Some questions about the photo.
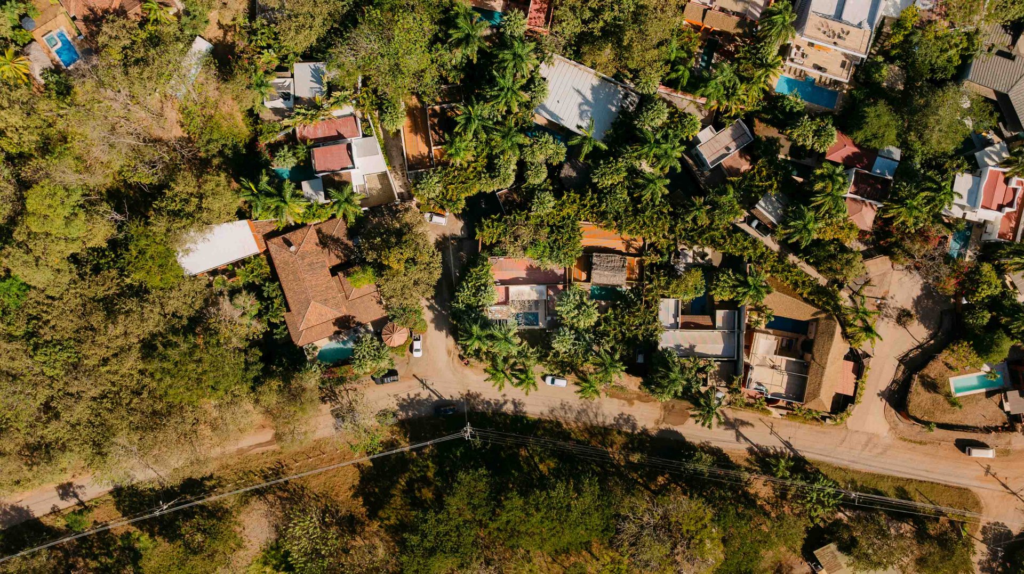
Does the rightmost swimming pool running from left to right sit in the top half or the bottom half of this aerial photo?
bottom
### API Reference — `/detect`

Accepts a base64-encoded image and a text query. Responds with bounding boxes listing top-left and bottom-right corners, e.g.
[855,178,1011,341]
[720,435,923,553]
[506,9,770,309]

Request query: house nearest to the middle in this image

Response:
[489,258,568,328]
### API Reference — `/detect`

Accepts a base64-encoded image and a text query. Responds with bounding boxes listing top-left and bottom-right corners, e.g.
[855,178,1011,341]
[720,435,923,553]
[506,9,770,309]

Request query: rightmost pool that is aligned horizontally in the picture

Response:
[948,364,1008,398]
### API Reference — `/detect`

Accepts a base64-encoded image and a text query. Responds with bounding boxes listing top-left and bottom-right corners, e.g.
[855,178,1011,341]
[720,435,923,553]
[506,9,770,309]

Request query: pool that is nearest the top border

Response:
[470,5,506,29]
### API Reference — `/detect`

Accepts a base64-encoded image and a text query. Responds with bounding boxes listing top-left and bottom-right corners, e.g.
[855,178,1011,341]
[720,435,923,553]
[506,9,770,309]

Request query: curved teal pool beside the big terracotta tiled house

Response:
[315,329,361,366]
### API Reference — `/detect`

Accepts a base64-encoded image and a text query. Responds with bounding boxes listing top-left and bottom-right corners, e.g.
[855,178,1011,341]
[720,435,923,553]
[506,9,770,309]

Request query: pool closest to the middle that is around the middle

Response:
[515,311,540,327]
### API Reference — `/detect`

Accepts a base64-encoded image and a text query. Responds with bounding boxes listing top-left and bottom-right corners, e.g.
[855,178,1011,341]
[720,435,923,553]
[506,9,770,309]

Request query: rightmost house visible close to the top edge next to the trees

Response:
[961,23,1024,137]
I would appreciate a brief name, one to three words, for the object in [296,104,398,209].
house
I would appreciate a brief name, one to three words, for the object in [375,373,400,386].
vehicle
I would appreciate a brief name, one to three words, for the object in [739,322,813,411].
building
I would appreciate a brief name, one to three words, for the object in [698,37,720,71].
swimming pool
